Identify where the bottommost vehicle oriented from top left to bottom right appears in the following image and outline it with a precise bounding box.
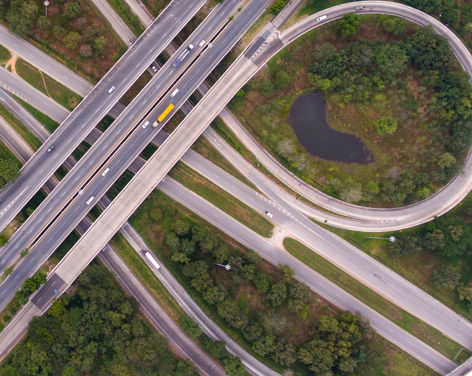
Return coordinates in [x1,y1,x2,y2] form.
[144,251,161,270]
